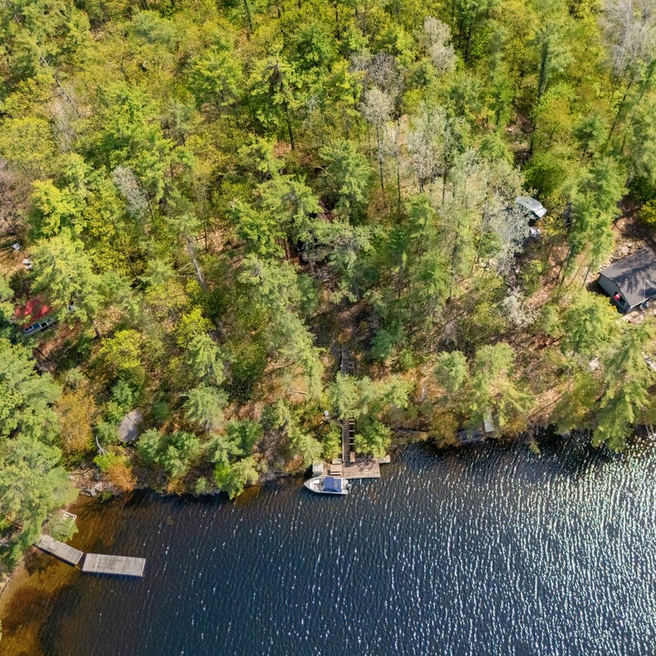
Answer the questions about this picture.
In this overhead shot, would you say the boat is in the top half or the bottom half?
bottom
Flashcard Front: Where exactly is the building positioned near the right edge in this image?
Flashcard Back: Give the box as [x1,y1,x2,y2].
[595,248,656,316]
